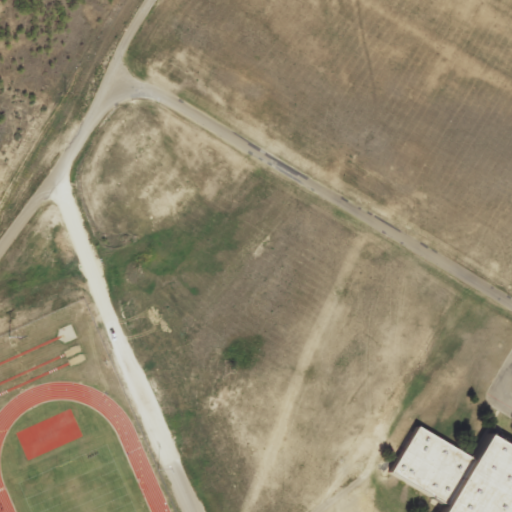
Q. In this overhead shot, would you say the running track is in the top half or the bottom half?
bottom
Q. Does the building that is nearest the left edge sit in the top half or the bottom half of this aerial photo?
bottom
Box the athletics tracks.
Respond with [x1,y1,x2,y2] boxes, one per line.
[0,382,172,512]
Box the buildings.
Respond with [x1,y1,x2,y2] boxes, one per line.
[442,434,512,512]
[390,426,473,504]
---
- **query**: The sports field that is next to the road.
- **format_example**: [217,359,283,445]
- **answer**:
[1,401,151,512]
